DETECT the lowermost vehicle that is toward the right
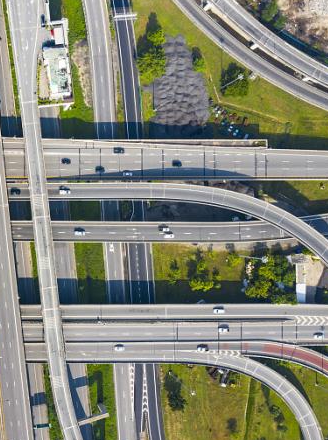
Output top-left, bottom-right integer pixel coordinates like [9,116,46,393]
[219,367,232,385]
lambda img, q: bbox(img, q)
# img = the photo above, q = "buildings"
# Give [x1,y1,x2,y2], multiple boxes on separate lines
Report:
[292,262,306,303]
[38,20,74,109]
